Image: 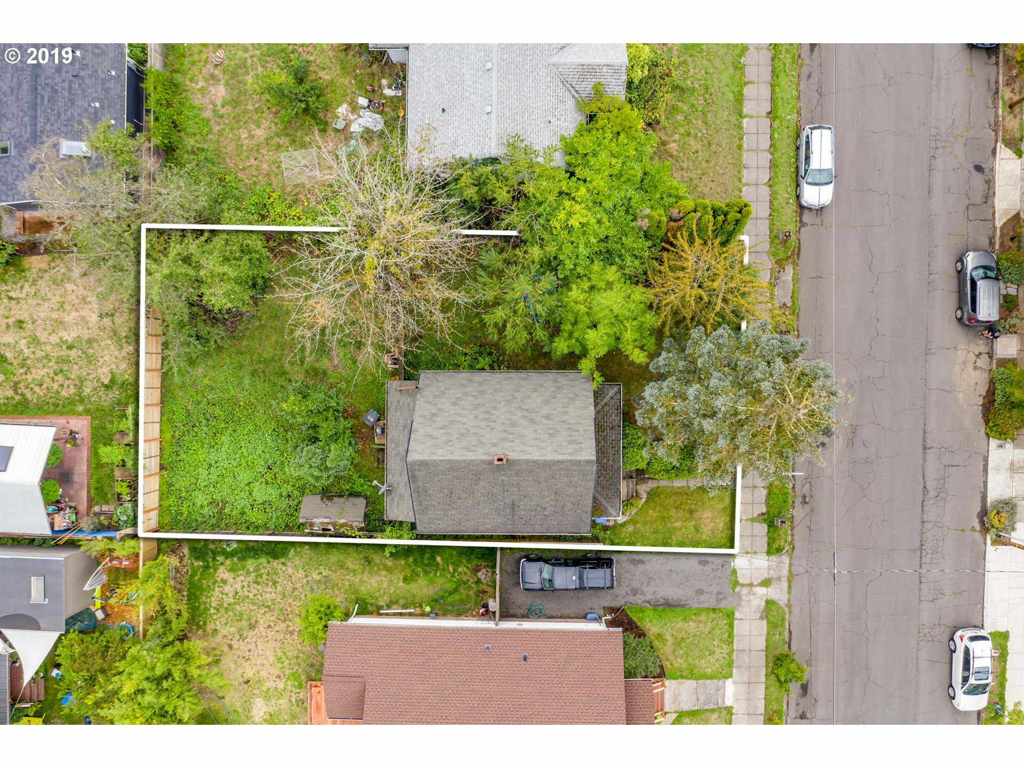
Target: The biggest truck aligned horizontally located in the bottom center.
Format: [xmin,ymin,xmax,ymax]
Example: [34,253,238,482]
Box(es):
[519,553,614,595]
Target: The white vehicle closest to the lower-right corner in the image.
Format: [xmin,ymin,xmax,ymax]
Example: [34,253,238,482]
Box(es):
[946,628,996,712]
